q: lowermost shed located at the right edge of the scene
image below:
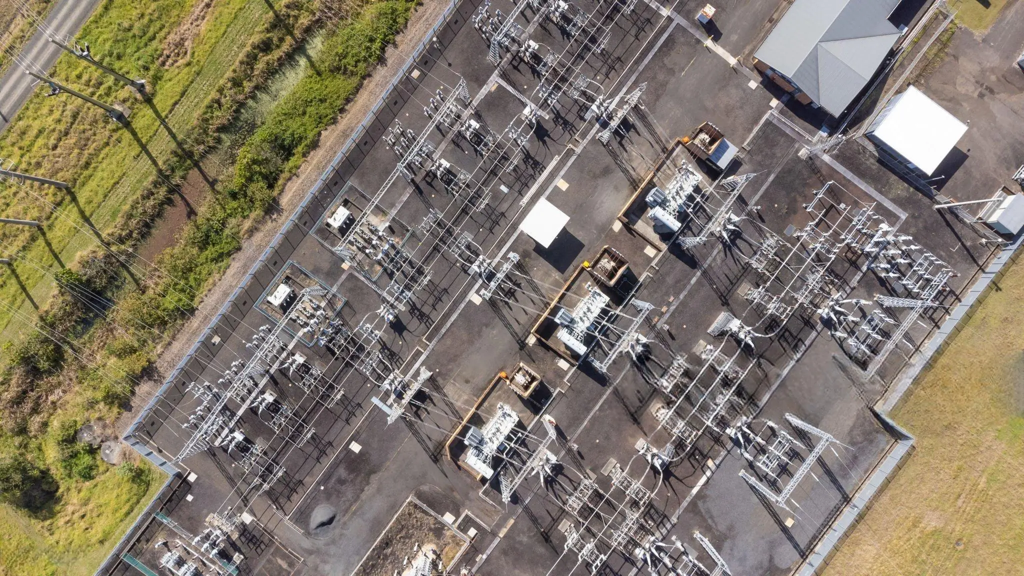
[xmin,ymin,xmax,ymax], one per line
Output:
[977,191,1024,235]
